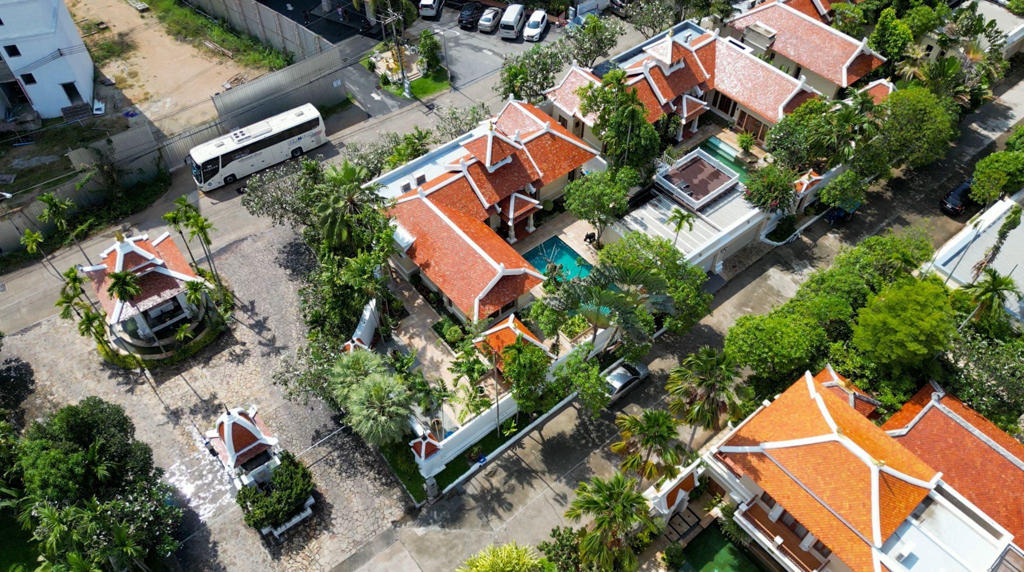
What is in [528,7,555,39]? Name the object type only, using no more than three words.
car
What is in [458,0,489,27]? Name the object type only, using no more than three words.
car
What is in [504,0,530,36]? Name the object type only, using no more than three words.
vehicle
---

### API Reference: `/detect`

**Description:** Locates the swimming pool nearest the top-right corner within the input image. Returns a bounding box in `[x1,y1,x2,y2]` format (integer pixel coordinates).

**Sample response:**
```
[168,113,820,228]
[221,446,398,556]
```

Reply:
[690,135,764,191]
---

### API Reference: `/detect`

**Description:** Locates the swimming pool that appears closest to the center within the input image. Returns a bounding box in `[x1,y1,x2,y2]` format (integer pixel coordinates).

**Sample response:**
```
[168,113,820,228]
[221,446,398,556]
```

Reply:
[521,232,618,319]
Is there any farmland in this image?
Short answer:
No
